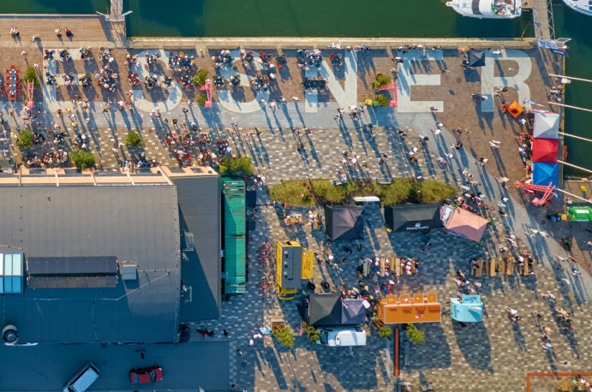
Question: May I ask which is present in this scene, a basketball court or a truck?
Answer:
truck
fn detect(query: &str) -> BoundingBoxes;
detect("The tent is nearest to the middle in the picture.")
[325,202,363,240]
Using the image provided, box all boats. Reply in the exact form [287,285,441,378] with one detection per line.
[447,0,520,18]
[563,0,592,18]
